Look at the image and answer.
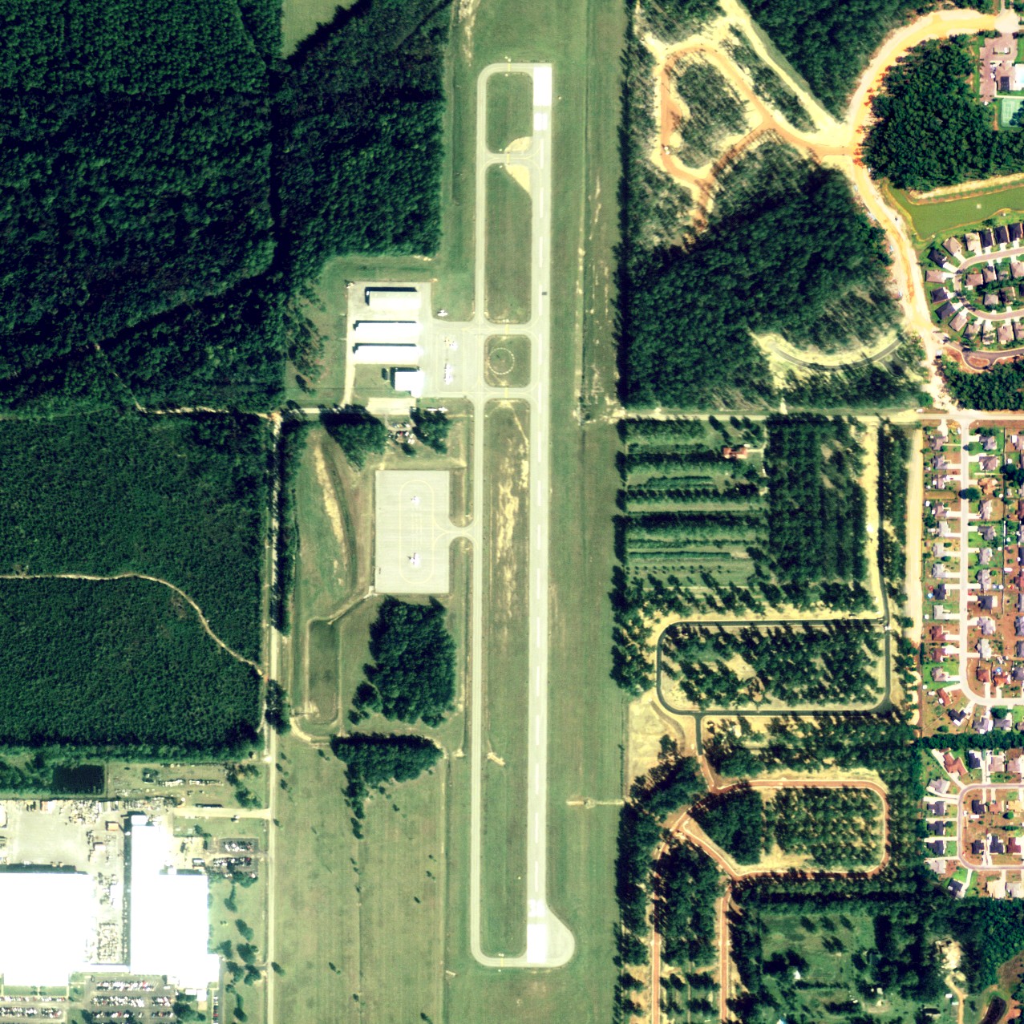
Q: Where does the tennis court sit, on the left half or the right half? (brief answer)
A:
right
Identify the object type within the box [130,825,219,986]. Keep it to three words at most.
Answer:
building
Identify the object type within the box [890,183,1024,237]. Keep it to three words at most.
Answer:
pond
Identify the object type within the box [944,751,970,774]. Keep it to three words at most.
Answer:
house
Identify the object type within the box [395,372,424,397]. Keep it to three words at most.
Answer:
hangar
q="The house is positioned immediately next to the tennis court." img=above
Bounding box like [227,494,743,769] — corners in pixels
[999,64,1015,90]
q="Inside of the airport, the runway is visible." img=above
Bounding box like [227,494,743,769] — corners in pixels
[527,63,575,967]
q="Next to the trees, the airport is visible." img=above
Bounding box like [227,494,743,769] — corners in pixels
[348,63,575,967]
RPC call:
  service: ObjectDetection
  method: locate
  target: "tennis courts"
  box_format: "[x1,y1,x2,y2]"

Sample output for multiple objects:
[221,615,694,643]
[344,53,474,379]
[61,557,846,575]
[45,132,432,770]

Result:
[1002,98,1024,127]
